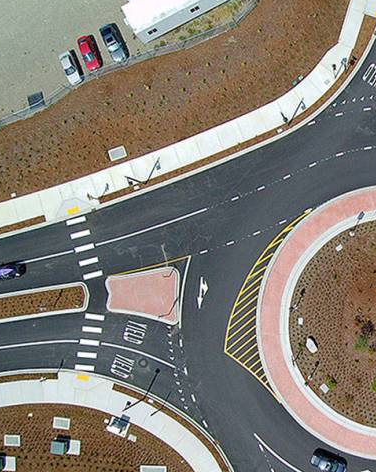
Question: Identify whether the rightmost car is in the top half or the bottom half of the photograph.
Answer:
bottom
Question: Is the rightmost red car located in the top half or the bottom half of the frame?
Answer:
top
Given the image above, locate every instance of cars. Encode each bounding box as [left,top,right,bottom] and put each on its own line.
[310,452,347,472]
[100,23,128,63]
[0,262,23,280]
[59,48,83,86]
[76,34,102,72]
